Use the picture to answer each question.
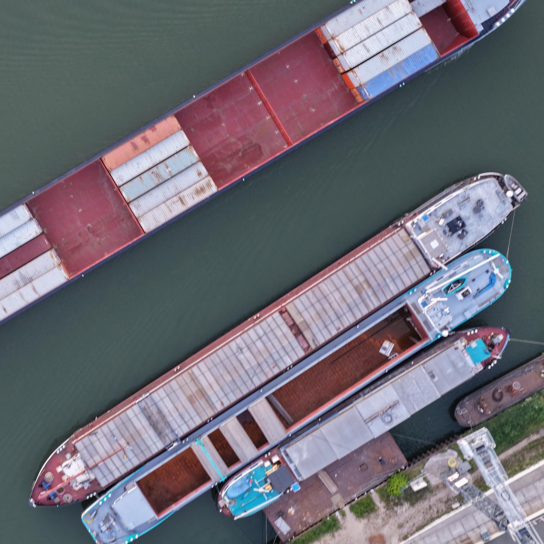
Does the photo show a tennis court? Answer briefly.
No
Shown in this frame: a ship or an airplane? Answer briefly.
ship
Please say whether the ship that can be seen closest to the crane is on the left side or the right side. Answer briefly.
right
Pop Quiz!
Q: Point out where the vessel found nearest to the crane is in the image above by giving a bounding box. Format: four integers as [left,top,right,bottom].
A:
[452,352,544,427]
